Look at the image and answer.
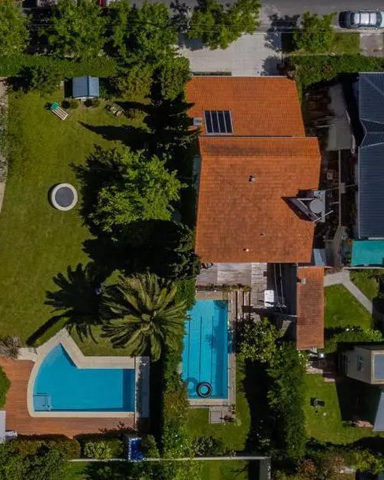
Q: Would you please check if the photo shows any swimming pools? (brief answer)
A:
Yes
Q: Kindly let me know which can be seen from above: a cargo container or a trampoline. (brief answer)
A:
trampoline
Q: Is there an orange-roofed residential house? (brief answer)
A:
Yes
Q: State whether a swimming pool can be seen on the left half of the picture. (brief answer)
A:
Yes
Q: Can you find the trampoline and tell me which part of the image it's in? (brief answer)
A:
left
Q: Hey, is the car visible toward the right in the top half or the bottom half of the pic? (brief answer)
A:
top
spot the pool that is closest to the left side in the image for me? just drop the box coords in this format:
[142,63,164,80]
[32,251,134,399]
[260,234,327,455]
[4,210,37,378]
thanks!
[28,327,134,417]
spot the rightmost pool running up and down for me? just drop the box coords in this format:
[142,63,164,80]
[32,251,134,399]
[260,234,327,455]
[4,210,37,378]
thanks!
[182,290,234,406]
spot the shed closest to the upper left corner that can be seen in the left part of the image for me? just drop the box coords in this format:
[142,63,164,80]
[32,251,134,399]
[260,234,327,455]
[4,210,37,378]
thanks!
[71,76,99,99]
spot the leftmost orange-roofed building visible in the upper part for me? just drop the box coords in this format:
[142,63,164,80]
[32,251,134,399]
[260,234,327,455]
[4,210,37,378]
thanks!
[185,75,332,262]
